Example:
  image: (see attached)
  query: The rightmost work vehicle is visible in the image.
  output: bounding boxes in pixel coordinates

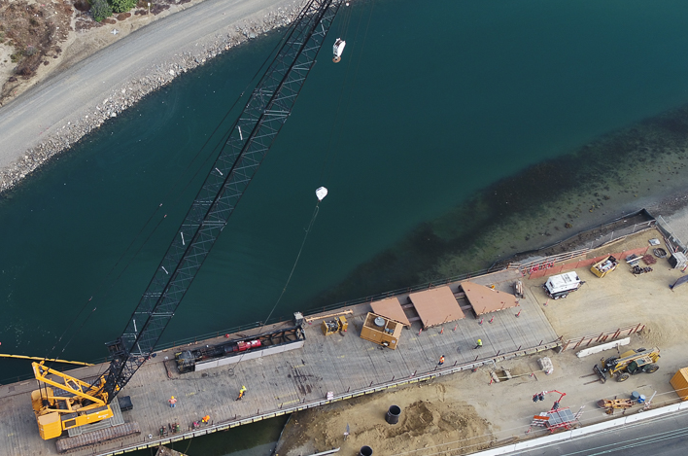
[584,345,664,384]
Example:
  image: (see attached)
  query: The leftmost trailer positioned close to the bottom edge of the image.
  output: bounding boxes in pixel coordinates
[529,389,579,434]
